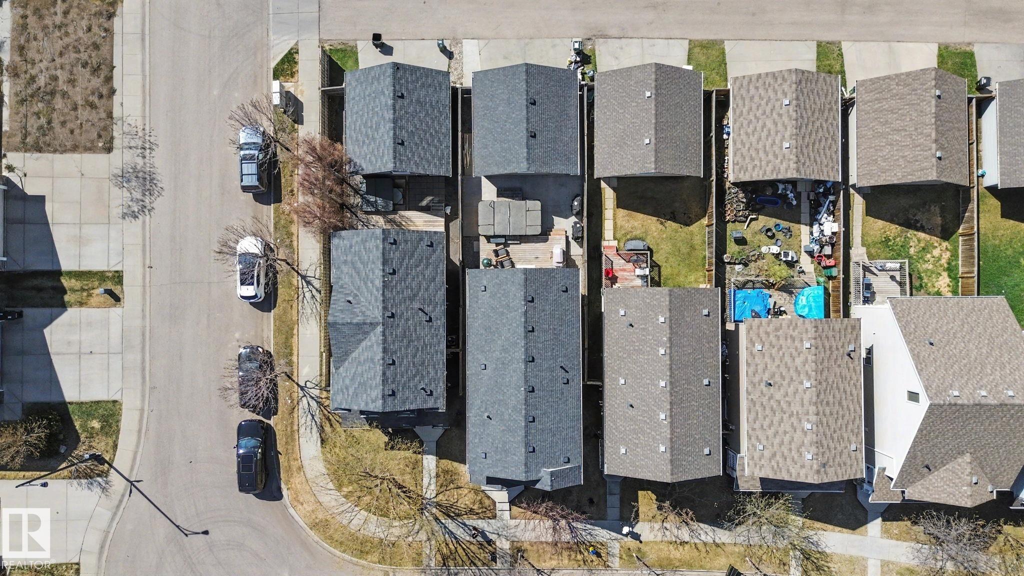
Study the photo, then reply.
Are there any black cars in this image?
Yes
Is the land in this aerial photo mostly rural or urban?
urban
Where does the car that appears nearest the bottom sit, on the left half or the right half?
left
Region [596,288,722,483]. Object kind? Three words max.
house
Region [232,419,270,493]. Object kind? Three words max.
car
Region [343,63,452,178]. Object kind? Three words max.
building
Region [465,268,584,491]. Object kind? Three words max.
house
